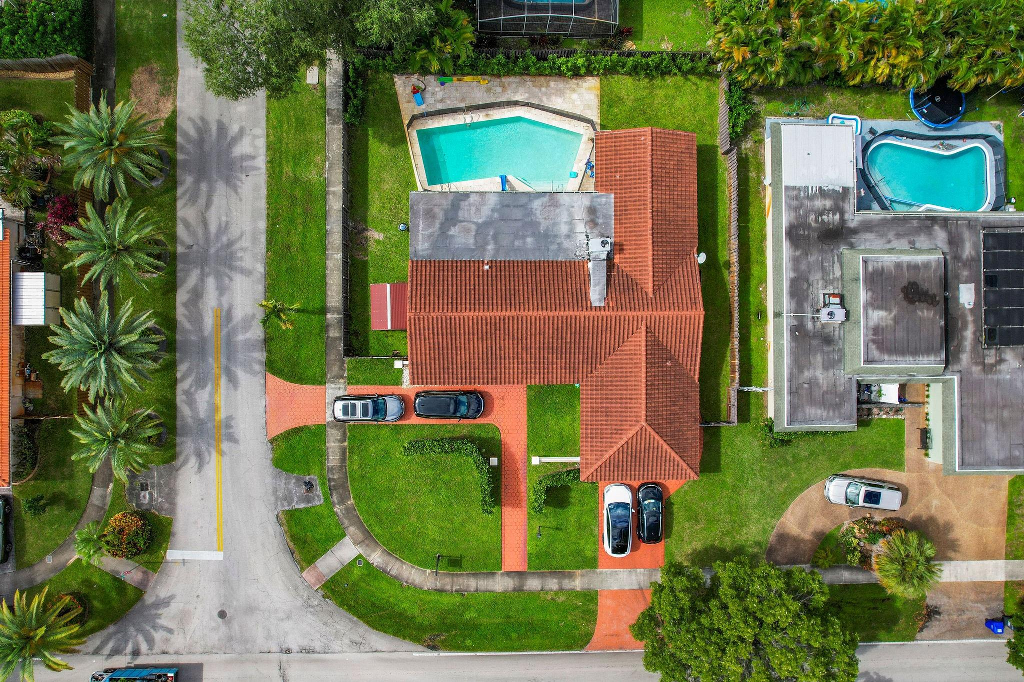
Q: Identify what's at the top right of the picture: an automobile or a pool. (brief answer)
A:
pool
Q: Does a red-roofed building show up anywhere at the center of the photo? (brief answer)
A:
Yes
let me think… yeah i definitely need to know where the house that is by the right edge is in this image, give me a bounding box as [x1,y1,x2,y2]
[768,121,1024,474]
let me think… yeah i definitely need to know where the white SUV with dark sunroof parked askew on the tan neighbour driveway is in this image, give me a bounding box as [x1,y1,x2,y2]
[827,475,907,514]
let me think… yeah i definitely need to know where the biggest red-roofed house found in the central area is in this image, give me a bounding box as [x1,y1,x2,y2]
[404,125,706,482]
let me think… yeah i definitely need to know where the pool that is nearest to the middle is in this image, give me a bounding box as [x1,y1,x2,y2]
[409,109,591,189]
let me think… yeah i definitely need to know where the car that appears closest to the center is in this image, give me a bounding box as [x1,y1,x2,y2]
[413,389,481,425]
